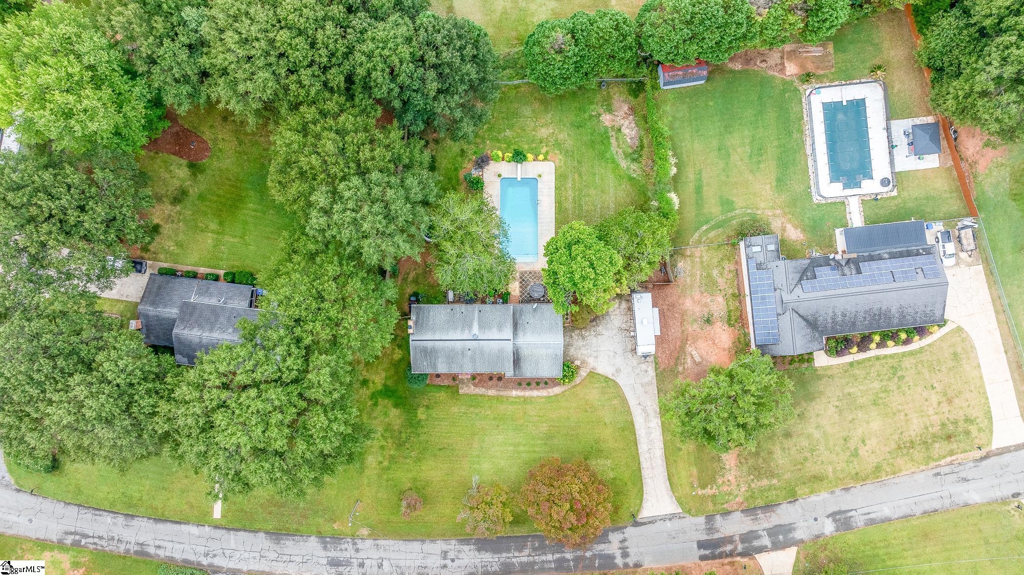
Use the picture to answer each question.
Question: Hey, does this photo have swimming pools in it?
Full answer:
Yes, a swimming pool is visible in the scene.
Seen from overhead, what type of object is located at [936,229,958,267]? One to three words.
truck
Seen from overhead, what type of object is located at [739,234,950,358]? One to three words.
house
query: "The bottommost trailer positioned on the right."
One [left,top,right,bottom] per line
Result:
[628,293,659,362]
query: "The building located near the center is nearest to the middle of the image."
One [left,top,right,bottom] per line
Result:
[407,304,564,378]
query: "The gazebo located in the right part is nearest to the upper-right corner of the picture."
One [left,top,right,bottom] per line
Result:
[906,122,942,158]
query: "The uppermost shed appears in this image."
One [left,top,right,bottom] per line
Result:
[659,57,708,91]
